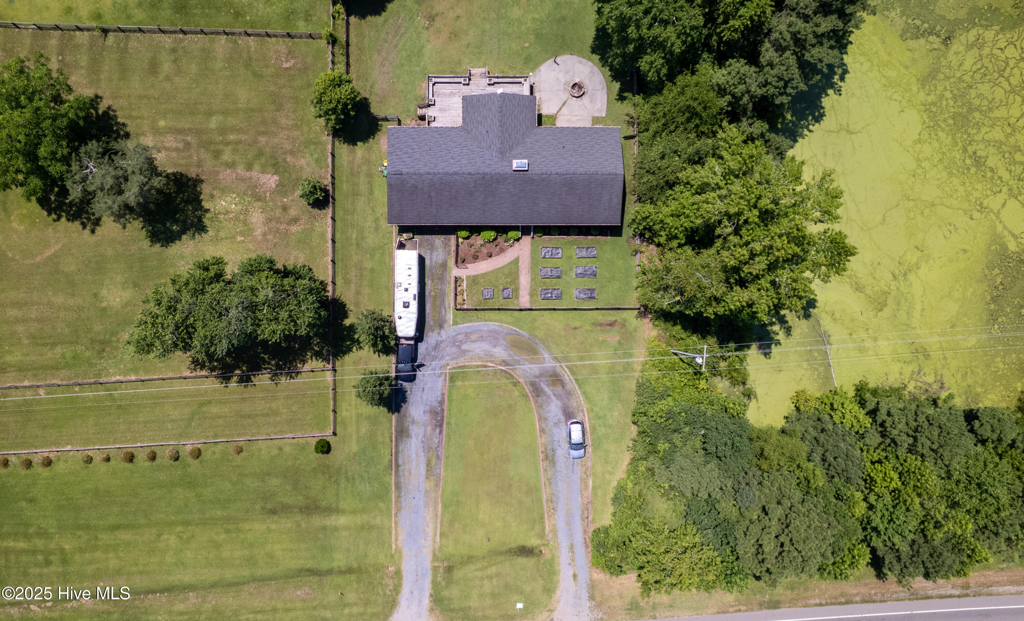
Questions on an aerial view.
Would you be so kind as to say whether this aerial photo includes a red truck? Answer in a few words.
No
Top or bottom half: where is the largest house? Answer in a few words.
top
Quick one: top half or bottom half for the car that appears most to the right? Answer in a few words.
bottom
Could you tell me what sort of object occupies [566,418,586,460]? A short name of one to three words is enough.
car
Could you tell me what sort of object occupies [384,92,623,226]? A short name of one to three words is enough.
house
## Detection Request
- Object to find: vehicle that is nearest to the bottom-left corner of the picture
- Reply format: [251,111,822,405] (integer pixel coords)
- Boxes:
[391,328,418,382]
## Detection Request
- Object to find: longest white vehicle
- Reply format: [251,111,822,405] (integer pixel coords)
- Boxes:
[394,239,422,336]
